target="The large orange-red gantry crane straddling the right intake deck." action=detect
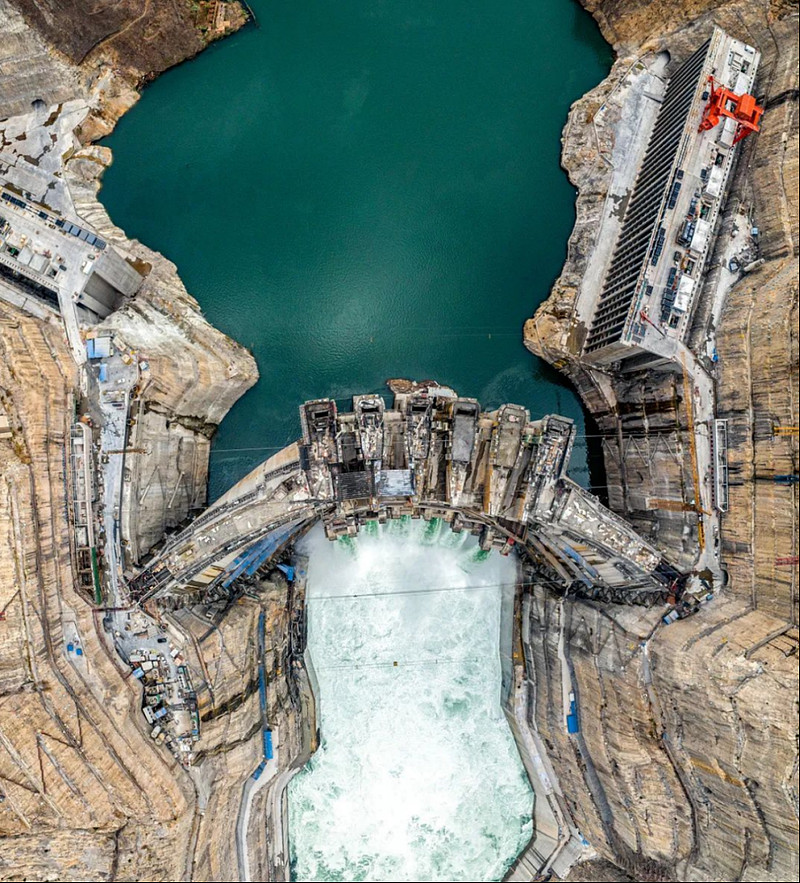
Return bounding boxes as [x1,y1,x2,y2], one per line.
[679,62,764,132]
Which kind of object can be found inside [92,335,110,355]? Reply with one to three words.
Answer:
shed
